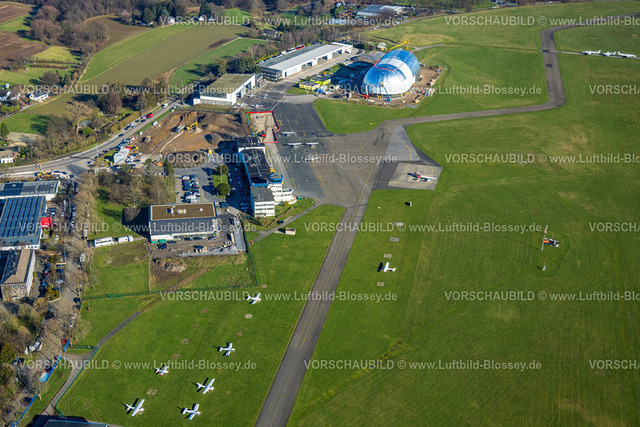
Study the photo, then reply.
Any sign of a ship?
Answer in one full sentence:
No, no ship is visible in the view.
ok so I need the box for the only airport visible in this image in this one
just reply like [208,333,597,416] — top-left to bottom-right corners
[246,12,640,427]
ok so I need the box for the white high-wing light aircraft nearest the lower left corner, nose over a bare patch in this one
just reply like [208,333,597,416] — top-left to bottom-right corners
[125,398,144,415]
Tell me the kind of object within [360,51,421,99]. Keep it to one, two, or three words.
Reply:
hangar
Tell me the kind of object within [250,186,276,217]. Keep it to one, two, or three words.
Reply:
building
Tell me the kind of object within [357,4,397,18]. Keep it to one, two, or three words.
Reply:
building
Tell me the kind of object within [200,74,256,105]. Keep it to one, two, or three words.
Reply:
hangar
